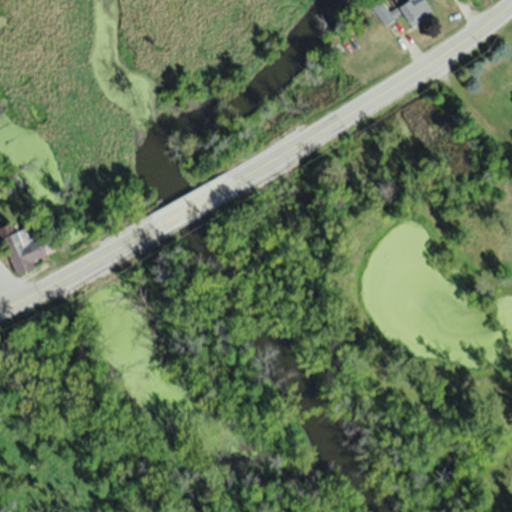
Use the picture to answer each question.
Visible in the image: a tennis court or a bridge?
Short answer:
bridge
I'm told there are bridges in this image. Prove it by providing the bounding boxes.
[140,172,240,244]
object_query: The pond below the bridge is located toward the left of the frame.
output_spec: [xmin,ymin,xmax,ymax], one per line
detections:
[92,290,188,405]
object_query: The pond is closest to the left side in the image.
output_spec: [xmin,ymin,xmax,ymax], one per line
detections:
[0,114,66,204]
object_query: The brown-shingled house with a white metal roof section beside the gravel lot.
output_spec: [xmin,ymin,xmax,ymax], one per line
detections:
[4,232,45,276]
